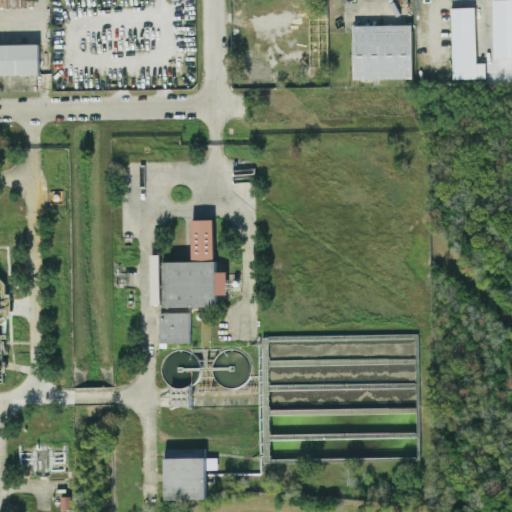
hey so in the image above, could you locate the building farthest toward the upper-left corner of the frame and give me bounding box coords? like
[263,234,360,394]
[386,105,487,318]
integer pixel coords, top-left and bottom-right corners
[0,45,40,76]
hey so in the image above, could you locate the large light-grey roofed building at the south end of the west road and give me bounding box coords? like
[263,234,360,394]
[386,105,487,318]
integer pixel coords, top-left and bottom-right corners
[163,458,207,500]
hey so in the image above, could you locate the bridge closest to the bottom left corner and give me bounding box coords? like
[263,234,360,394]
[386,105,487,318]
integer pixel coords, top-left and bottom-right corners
[71,388,116,405]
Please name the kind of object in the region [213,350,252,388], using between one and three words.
water tank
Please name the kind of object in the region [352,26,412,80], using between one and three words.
building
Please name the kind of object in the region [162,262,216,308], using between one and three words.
building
